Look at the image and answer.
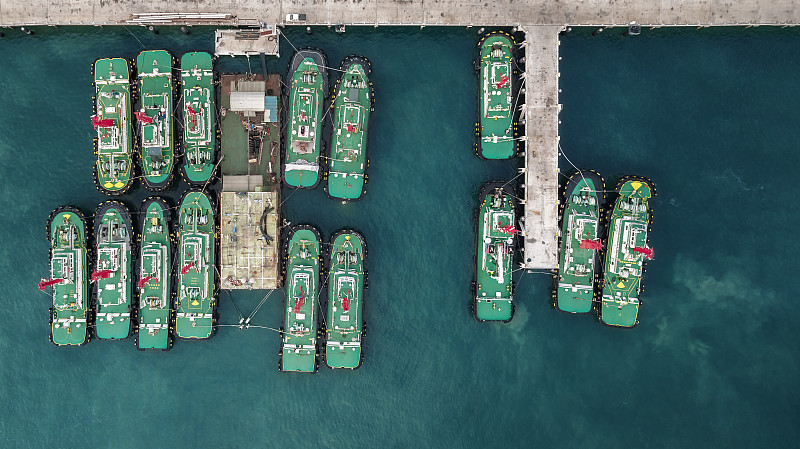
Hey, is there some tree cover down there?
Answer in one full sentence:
No, there is no tree cover in the image.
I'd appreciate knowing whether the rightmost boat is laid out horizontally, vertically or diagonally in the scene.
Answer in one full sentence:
I'd say the rightmost boat is aligned vertically in the picture.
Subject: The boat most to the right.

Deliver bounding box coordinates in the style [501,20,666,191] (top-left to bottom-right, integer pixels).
[597,175,662,331]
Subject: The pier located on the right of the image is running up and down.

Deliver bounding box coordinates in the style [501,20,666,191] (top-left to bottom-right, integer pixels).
[516,27,565,272]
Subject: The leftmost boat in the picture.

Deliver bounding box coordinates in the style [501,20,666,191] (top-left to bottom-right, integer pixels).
[34,204,93,348]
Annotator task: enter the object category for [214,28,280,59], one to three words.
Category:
pier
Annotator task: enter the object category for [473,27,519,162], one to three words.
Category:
boat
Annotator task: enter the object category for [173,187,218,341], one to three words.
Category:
boat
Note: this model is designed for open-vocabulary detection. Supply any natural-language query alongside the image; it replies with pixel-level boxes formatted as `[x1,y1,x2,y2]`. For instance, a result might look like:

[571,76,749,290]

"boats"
[472,180,518,323]
[173,187,218,341]
[323,226,367,371]
[553,166,608,315]
[473,27,519,162]
[127,194,176,351]
[34,204,93,348]
[327,52,375,205]
[597,175,662,331]
[84,56,137,200]
[130,47,180,194]
[177,50,220,188]
[82,198,137,341]
[278,223,325,376]
[282,45,329,191]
